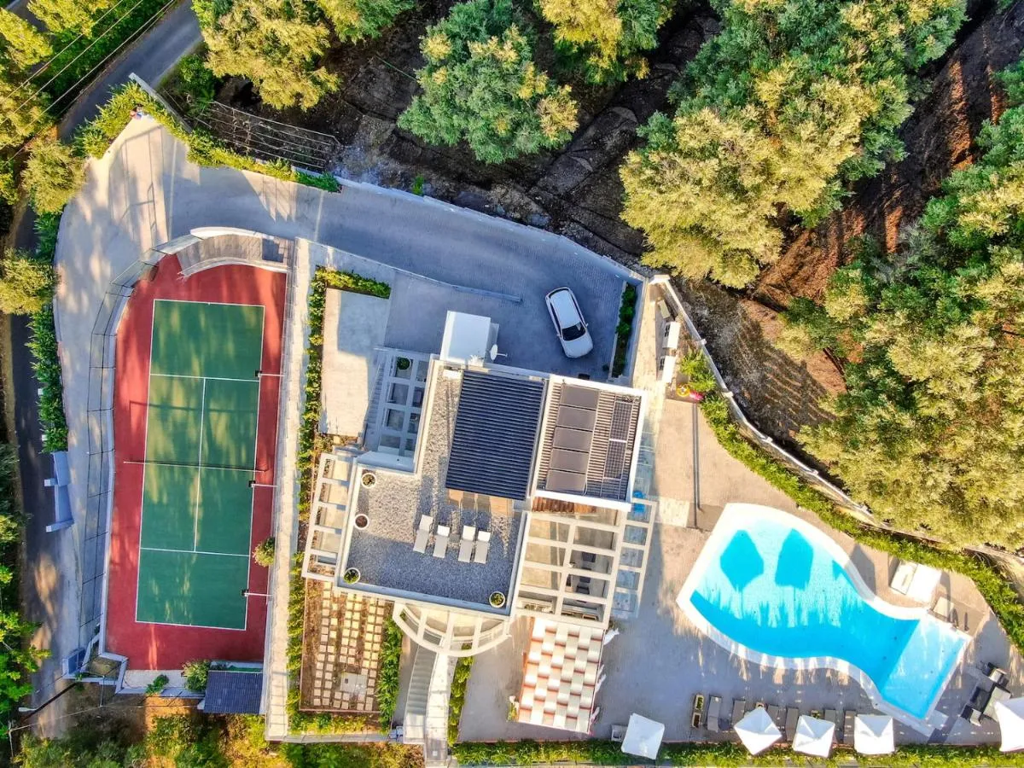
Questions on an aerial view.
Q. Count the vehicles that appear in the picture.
1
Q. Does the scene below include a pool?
Yes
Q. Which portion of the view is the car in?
center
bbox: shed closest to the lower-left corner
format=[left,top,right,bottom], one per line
[203,657,270,715]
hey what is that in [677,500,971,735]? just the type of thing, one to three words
swimming pool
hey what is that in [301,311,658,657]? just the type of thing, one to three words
house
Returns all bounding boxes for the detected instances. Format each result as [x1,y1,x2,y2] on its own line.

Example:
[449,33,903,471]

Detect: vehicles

[548,286,591,358]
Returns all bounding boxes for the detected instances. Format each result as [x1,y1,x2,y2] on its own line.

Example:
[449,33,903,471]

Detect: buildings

[203,657,270,715]
[301,311,658,657]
